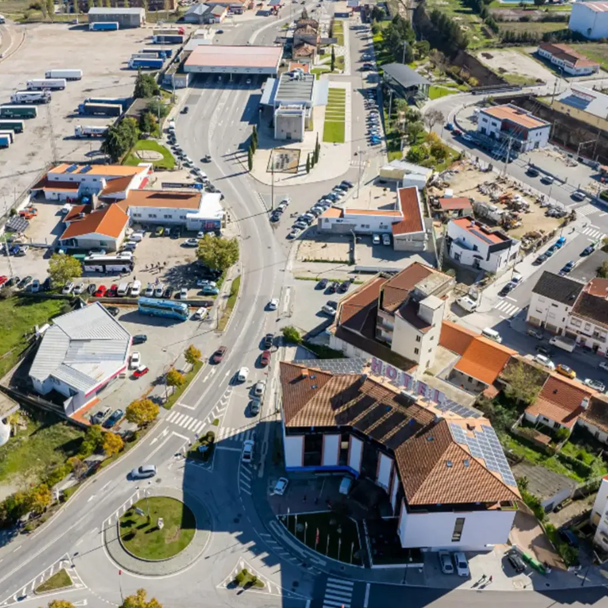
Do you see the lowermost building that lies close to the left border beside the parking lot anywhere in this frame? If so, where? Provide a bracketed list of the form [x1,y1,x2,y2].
[29,302,133,413]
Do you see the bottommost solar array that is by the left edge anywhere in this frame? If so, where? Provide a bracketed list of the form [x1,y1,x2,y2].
[4,215,32,237]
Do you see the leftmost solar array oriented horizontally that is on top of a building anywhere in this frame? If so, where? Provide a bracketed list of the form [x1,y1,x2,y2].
[297,357,369,371]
